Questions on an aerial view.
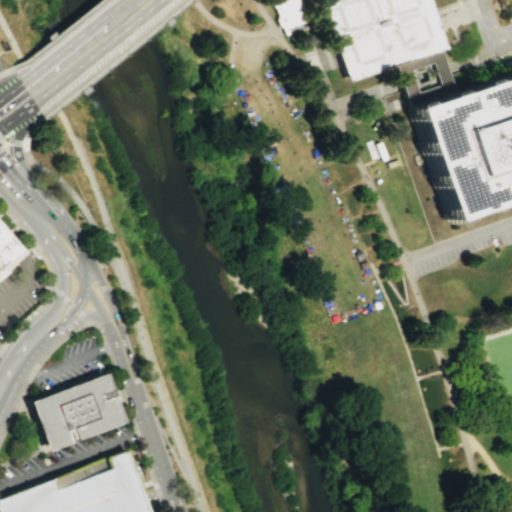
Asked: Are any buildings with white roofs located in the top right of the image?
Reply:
Yes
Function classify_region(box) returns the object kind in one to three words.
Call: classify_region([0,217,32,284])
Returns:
building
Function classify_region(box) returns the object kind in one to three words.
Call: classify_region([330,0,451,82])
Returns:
building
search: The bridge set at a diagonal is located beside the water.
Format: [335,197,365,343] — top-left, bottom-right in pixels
[15,0,195,120]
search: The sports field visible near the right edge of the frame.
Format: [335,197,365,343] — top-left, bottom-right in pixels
[486,334,512,399]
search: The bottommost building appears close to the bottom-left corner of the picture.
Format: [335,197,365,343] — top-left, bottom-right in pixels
[0,450,156,512]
